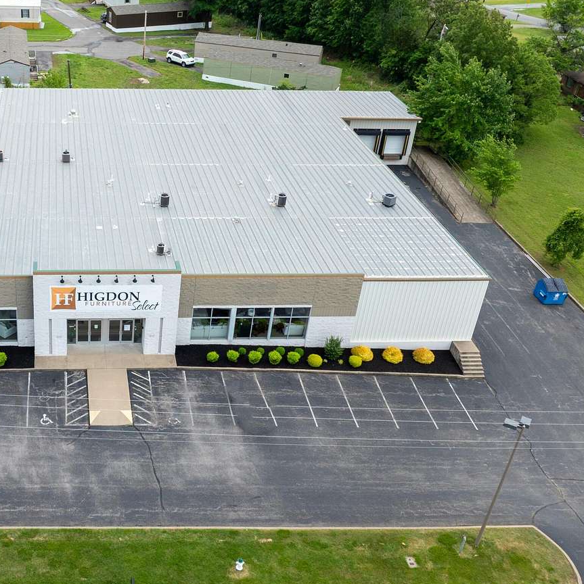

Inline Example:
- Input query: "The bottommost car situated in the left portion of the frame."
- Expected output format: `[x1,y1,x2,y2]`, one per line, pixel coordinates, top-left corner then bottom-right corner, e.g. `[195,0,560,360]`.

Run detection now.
[163,46,198,64]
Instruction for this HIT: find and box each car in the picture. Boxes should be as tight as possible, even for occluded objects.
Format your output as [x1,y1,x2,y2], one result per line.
[99,8,109,21]
[163,46,198,64]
